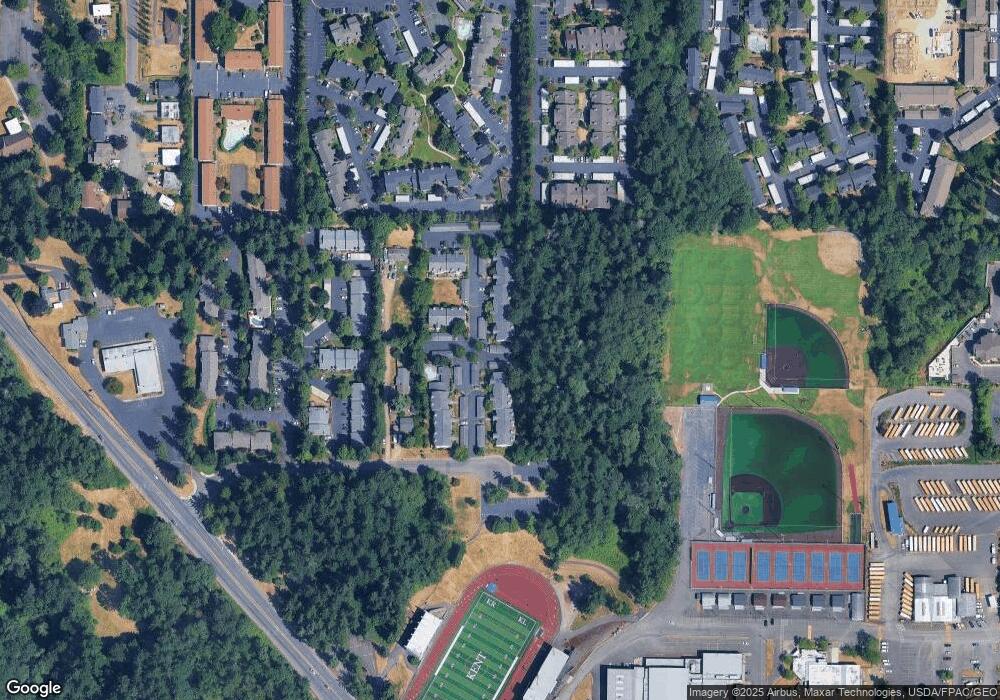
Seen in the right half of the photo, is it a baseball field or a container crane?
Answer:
baseball field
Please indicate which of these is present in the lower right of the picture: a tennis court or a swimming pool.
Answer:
tennis court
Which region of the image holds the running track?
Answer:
bottom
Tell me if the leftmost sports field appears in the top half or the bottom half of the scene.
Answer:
bottom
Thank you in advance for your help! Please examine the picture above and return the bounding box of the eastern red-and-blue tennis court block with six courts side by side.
[752,544,864,590]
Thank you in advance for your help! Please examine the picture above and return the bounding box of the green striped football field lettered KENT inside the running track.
[416,587,542,700]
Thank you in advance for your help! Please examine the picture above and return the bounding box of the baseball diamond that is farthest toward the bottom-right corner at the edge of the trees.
[718,407,843,543]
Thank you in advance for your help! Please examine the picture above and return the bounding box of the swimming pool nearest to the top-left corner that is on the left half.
[223,121,251,150]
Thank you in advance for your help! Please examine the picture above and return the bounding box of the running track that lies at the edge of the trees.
[403,563,558,700]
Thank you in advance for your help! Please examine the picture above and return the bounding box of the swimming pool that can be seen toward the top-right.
[747,32,769,53]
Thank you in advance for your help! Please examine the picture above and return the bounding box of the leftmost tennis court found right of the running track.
[691,543,750,589]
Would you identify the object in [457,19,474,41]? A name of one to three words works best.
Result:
swimming pool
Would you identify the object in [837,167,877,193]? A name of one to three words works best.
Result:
building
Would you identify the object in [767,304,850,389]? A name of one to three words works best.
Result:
baseball field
